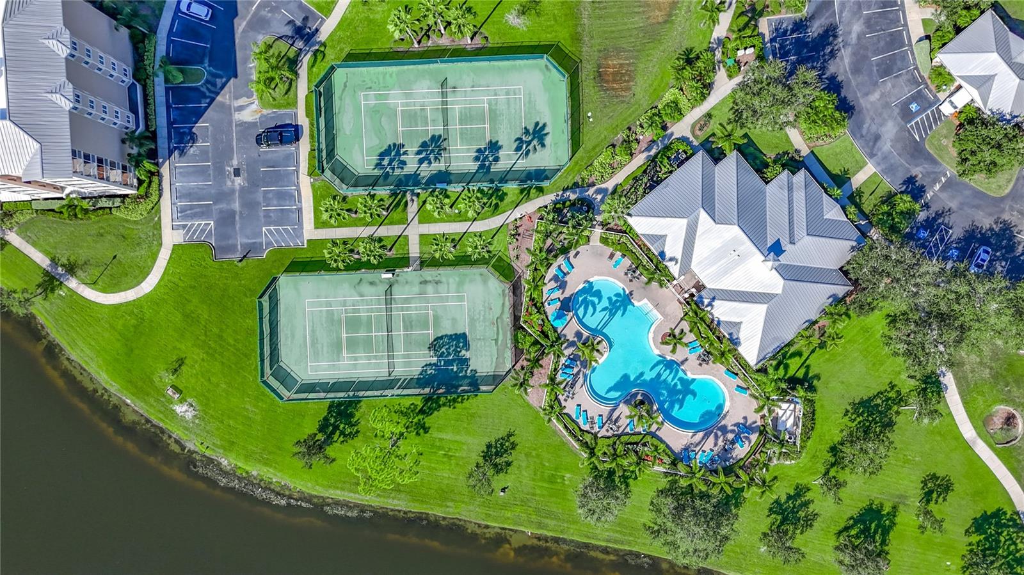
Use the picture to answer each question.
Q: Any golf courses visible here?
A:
No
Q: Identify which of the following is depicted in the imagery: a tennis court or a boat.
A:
tennis court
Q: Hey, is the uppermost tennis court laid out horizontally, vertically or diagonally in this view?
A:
horizontally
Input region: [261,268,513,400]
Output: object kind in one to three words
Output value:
tennis court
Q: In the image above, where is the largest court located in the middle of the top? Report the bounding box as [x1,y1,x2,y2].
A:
[318,58,570,193]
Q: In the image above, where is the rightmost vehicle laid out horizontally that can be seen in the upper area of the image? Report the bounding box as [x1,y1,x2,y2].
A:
[254,128,294,145]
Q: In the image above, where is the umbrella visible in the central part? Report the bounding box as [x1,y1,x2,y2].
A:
[550,309,569,328]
